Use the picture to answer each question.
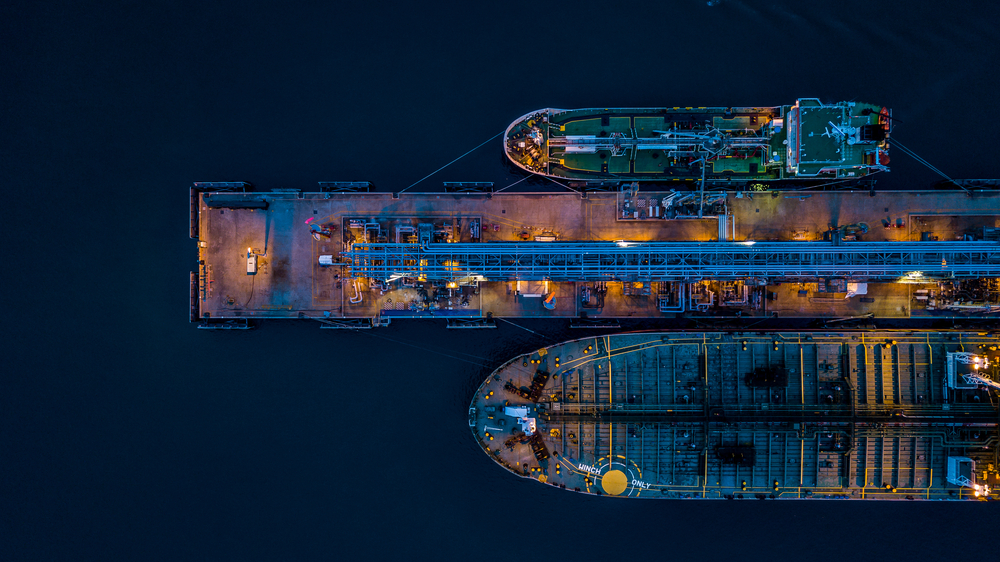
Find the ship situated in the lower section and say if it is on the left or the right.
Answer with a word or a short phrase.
right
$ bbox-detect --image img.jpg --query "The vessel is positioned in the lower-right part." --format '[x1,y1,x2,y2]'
[470,329,1000,501]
